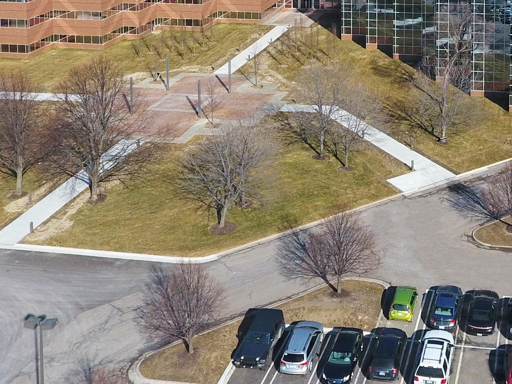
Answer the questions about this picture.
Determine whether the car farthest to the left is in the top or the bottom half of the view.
bottom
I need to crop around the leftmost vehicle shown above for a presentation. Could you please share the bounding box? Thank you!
[238,311,291,379]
